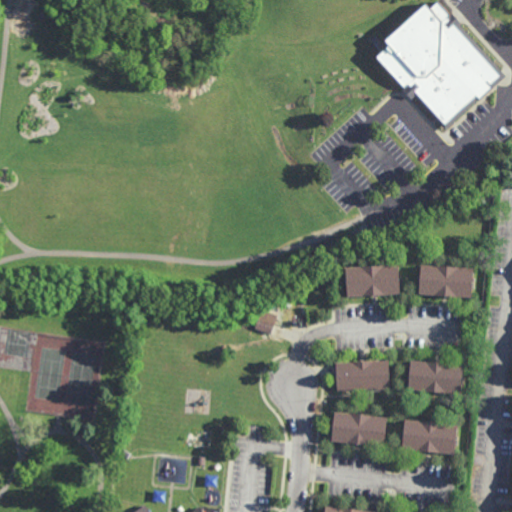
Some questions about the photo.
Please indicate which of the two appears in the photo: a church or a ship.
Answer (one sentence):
There is a church in the scene.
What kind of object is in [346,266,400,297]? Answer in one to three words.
house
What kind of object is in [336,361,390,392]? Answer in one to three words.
house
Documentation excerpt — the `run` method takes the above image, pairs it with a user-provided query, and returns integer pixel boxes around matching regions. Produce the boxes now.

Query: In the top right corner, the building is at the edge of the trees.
[376,2,501,128]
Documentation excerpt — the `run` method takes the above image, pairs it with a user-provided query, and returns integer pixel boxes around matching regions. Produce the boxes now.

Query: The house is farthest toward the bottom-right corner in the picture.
[402,418,460,454]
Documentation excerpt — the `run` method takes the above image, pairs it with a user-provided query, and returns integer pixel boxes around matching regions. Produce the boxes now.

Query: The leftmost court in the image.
[0,326,38,372]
